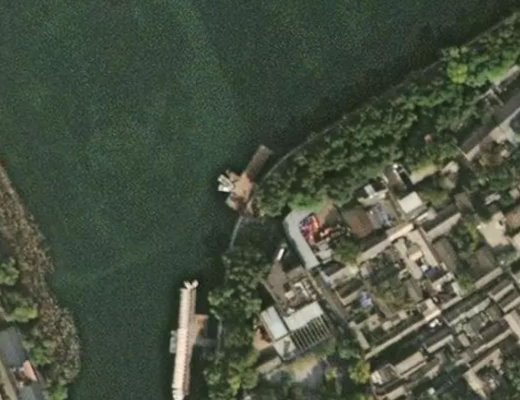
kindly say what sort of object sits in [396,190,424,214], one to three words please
house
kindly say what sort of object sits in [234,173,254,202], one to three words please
pier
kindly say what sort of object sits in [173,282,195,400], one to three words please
boat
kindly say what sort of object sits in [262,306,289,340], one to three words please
shed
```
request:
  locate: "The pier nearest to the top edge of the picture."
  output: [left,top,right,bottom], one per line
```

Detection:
[245,145,273,178]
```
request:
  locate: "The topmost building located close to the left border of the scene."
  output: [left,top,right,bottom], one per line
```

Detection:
[0,325,32,365]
